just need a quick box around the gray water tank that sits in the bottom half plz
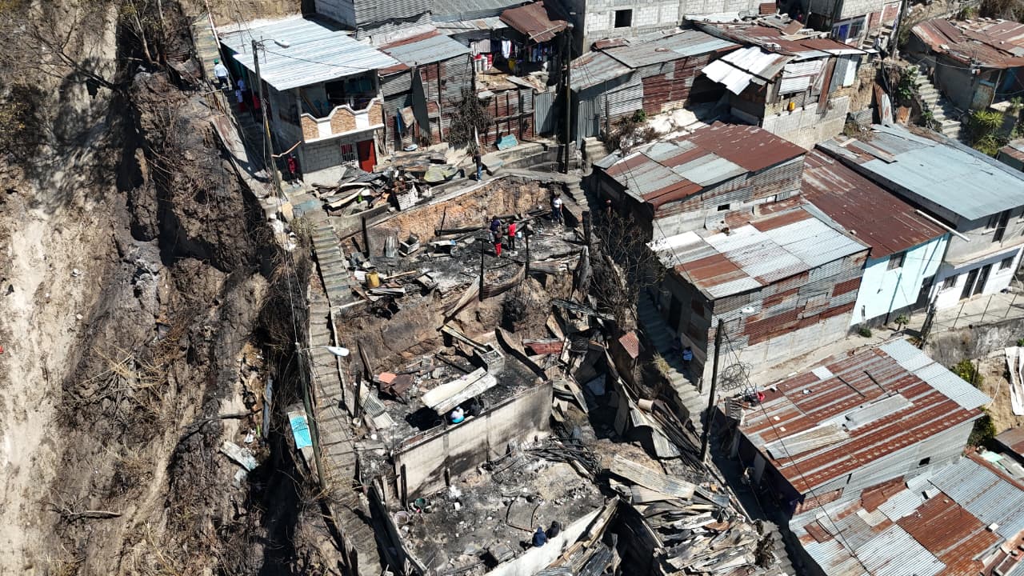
[478,346,505,375]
